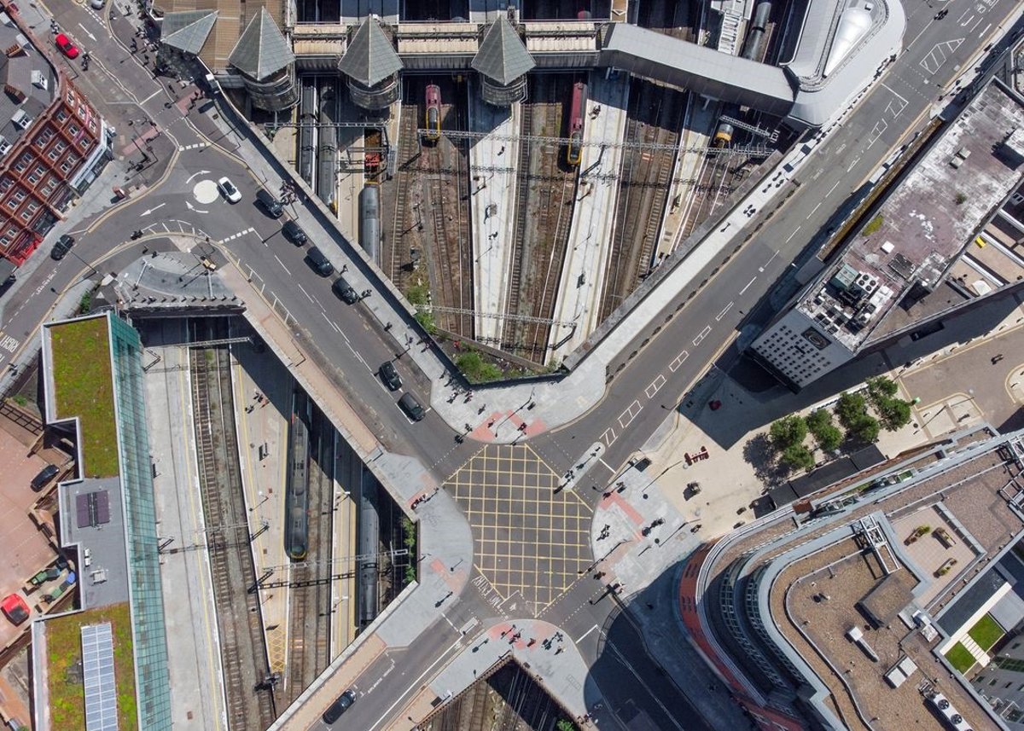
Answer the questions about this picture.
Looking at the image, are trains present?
Yes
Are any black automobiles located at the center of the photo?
Yes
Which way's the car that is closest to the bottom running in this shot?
diagonally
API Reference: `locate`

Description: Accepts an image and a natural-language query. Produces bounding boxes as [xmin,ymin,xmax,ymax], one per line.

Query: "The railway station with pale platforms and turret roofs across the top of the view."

[269,0,733,664]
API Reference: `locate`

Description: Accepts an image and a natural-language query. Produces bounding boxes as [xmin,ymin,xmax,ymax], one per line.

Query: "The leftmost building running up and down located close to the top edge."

[0,0,114,275]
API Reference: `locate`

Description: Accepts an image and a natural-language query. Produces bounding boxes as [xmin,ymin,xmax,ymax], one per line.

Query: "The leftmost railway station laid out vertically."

[128,311,360,731]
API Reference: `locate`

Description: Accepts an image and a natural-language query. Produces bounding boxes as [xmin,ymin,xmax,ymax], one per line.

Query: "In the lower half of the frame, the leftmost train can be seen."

[290,379,313,560]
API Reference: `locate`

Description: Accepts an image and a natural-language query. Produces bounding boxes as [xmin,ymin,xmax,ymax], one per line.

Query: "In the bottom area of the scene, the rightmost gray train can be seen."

[356,502,381,643]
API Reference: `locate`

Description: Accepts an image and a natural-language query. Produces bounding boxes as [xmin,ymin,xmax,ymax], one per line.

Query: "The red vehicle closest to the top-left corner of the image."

[56,36,78,58]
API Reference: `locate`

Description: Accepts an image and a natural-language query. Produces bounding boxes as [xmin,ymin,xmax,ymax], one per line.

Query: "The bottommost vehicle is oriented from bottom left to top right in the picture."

[320,689,357,726]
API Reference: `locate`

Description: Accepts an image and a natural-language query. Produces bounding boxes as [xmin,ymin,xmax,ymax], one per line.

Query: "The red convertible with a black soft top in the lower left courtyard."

[4,594,29,625]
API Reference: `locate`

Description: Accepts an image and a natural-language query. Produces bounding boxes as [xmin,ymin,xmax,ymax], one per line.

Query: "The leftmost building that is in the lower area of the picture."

[30,311,175,731]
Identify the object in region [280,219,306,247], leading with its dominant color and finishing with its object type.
black car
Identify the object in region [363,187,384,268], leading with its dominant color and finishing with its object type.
gray train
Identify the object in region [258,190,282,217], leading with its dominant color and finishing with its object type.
black car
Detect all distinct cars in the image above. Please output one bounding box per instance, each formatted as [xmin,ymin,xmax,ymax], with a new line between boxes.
[218,177,241,203]
[49,233,77,264]
[93,0,106,6]
[4,594,29,625]
[28,462,64,494]
[320,689,357,726]
[378,361,402,394]
[280,219,306,247]
[56,36,78,58]
[306,247,333,275]
[399,392,426,424]
[258,190,282,217]
[332,277,359,305]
